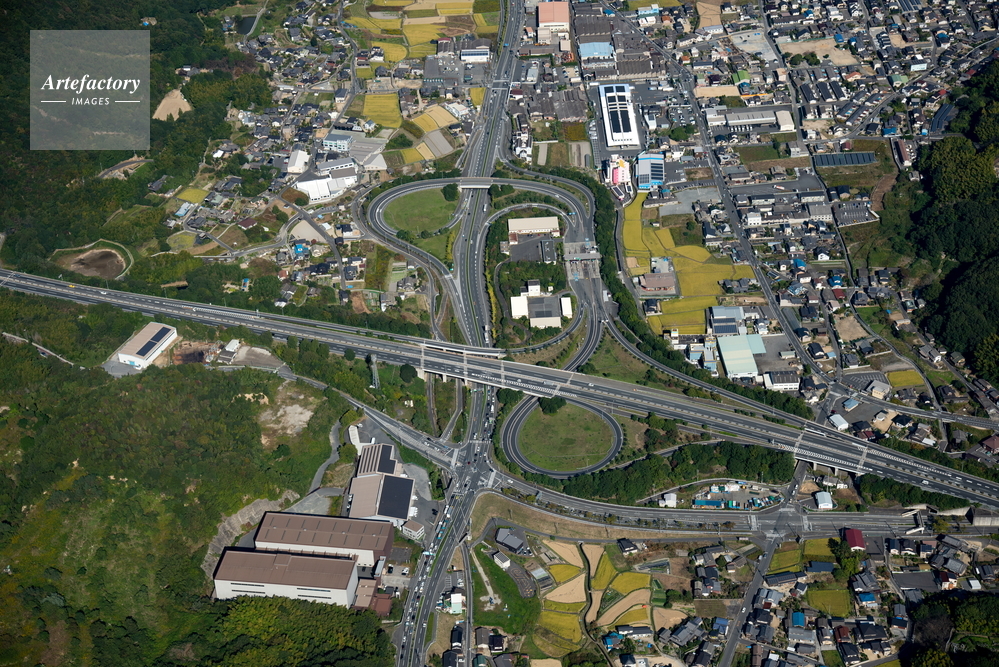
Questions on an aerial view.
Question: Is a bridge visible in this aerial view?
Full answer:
Yes, I can see a bridge in this picture.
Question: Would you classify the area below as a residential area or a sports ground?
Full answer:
This looks like a residential area.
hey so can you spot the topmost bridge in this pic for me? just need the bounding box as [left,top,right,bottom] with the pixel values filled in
[452,178,511,191]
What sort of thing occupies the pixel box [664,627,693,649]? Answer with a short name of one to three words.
house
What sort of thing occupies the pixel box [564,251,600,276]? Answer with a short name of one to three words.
toll station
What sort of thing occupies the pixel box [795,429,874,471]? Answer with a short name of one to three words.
bridge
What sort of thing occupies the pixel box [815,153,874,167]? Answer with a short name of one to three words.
solar array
